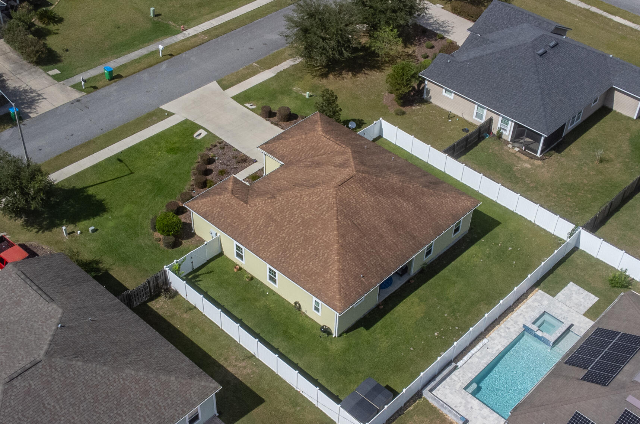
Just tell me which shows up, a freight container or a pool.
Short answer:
pool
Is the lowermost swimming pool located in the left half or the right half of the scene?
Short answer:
right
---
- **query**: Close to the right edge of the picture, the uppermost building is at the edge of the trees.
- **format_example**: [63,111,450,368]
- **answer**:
[418,0,640,160]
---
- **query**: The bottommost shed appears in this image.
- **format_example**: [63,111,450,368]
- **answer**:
[341,378,393,424]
